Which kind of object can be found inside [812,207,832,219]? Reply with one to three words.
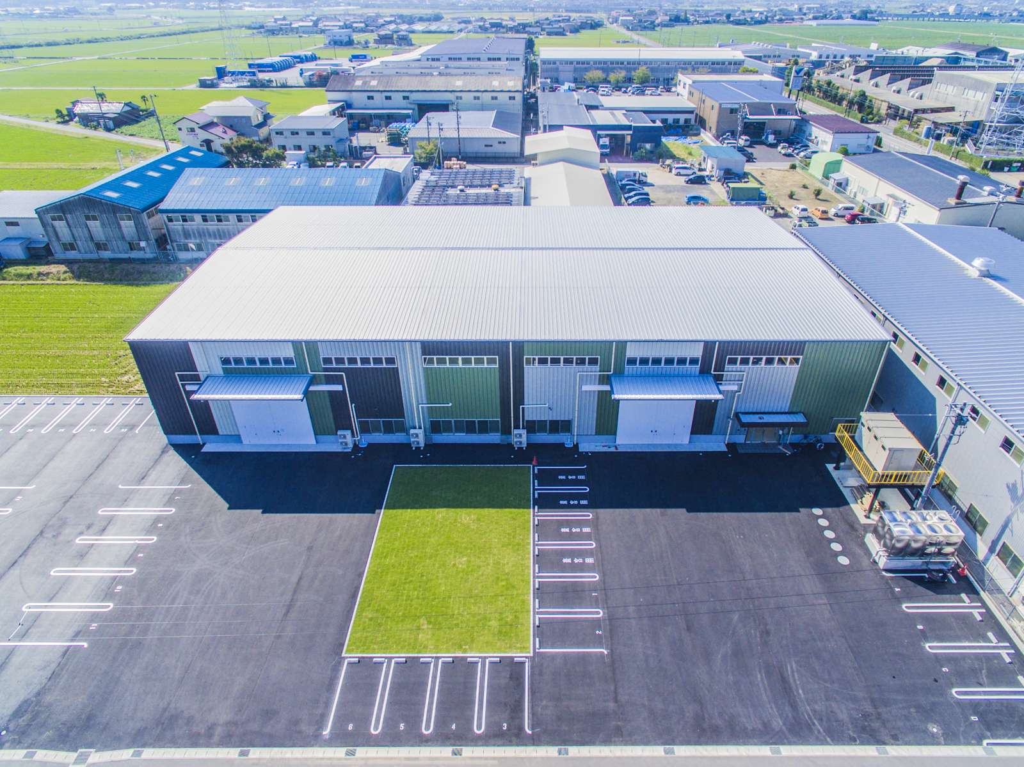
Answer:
vehicle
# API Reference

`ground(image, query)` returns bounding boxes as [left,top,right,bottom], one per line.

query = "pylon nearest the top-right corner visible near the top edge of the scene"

[956,2,1024,153]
